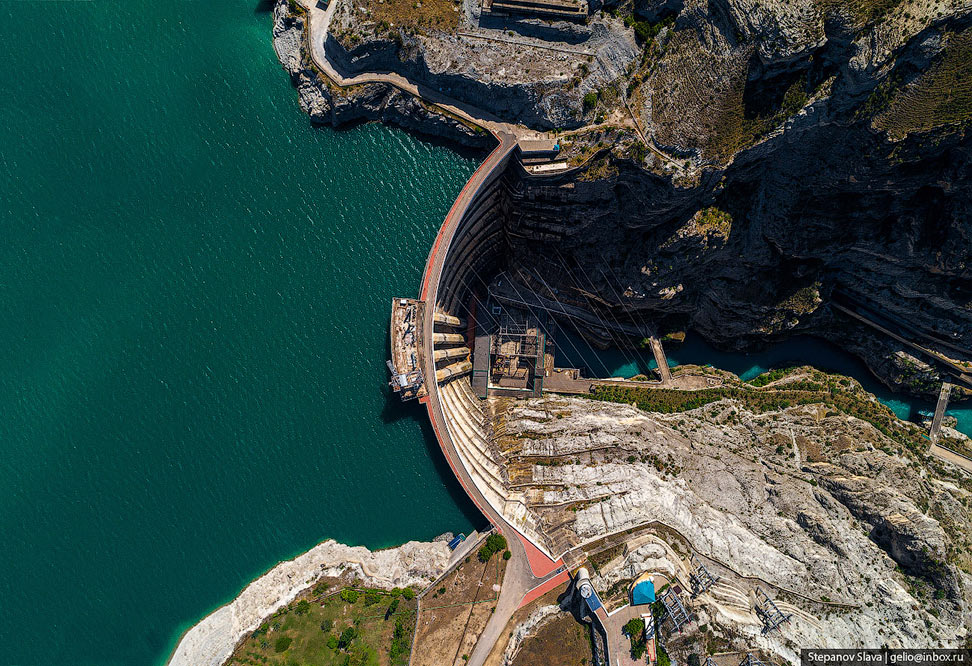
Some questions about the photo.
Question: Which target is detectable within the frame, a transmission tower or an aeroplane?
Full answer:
There is a transmission tower in the scene.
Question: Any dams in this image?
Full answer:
Yes, I can see a dam in this picture.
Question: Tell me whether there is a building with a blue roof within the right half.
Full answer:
Yes, looking within the right half, one can make out a building with a blue roof.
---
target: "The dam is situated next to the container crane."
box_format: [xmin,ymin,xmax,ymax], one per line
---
[421,129,590,562]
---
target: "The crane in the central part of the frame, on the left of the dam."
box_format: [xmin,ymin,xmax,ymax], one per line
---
[386,360,425,396]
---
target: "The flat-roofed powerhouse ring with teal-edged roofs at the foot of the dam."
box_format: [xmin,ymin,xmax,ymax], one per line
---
[468,293,546,398]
